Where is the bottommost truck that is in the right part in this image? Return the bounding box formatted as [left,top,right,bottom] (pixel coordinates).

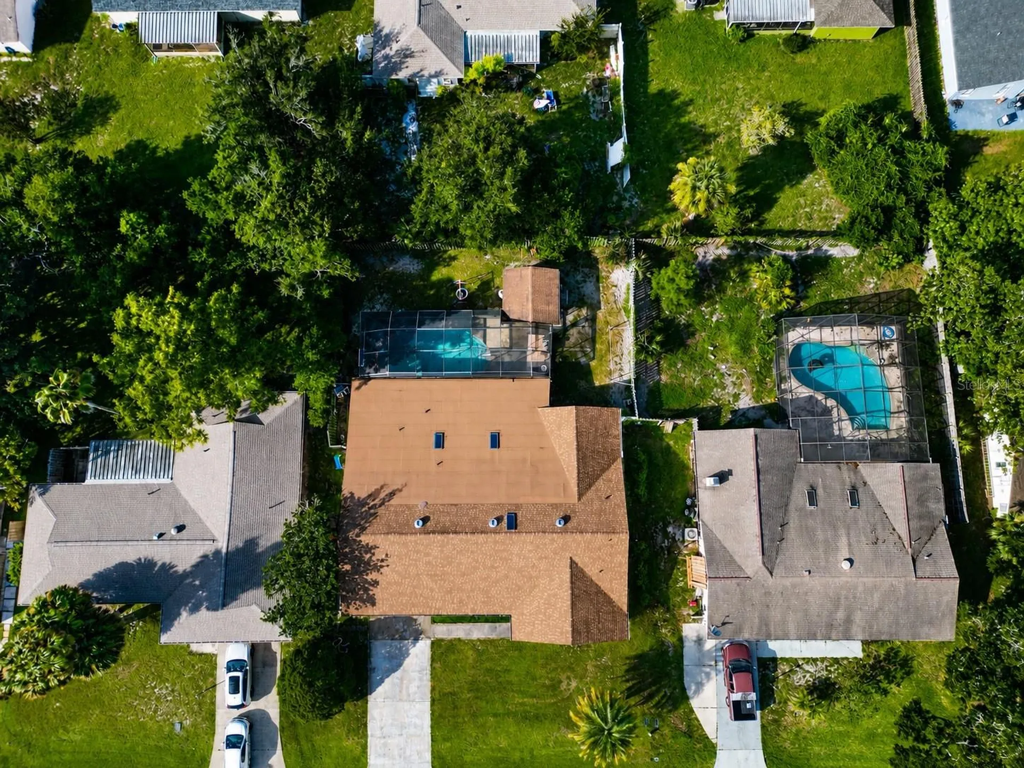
[721,642,757,725]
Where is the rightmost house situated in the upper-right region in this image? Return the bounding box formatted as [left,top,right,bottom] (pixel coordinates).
[936,0,1024,107]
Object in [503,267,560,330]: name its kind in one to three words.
shed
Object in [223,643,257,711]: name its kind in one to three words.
car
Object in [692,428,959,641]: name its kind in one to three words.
house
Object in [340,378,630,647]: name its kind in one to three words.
house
